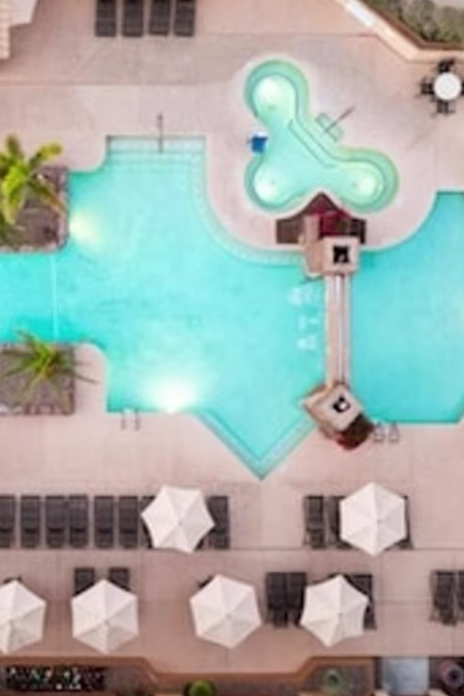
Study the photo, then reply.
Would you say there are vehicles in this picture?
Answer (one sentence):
No, there appears to be no vehicle in this shot.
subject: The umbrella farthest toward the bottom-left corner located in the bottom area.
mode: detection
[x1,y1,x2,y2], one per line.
[0,577,47,655]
